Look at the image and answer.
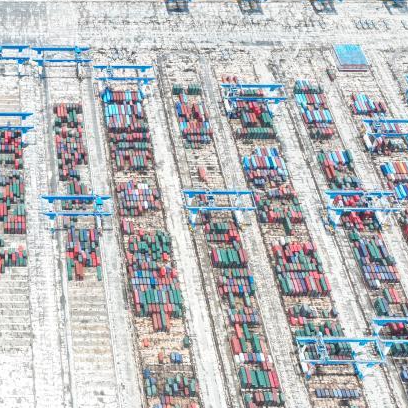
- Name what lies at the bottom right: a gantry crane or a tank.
gantry crane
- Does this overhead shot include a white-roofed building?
No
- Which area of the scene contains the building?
top right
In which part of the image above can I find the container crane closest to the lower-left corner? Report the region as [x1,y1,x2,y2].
[40,194,114,238]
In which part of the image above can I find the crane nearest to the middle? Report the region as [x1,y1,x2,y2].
[179,187,255,233]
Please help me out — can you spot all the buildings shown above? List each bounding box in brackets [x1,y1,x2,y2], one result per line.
[331,46,370,70]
